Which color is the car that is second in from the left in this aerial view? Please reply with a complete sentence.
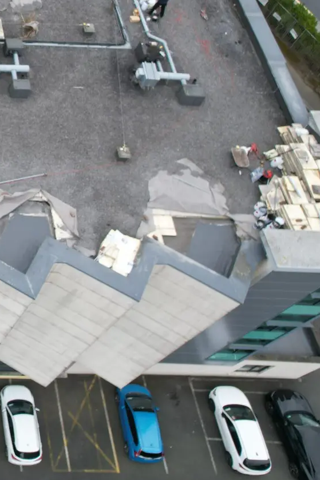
The car that is second in from the left is blue.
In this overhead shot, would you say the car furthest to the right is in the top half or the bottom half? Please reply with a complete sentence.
The car furthest to the right is in the bottom half of the image.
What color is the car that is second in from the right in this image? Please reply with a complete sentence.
In this view, the car that is second in from the right is white.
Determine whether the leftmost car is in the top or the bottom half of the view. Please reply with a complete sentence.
It is in the bottom half that the leftmost car appears.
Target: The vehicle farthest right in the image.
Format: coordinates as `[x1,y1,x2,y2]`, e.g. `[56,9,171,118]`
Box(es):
[265,391,320,480]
